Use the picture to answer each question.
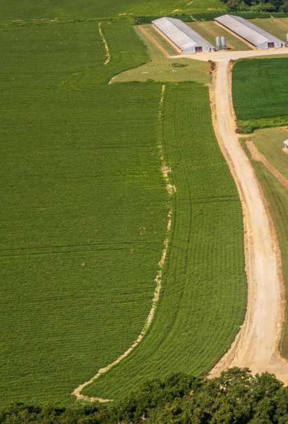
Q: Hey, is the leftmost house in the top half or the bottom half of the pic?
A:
top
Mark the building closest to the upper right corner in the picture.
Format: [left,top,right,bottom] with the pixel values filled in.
[217,13,284,48]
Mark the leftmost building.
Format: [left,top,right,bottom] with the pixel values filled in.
[152,16,211,53]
